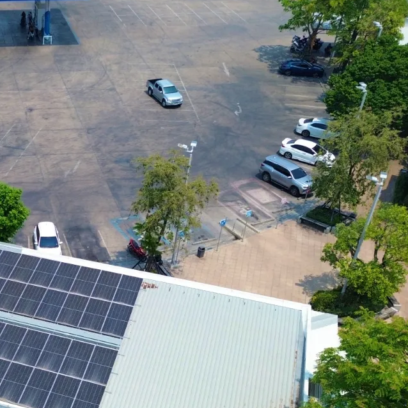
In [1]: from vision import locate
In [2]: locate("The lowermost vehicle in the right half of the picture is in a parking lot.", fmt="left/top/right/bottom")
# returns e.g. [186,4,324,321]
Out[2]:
[259,155,320,195]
